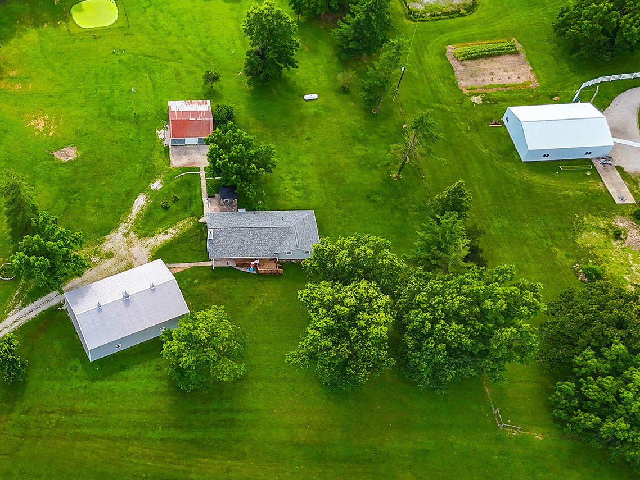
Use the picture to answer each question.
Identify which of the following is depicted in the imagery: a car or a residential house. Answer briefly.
residential house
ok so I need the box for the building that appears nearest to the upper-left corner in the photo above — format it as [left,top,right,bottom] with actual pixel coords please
[169,100,214,146]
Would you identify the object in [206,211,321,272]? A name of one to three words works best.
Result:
house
